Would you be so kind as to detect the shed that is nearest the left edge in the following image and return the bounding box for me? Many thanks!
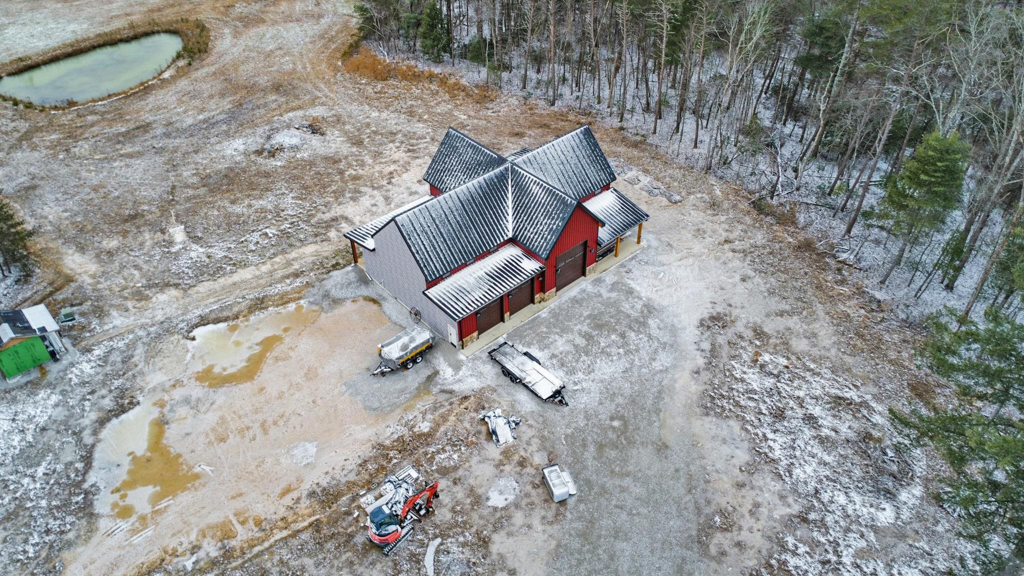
[0,302,71,381]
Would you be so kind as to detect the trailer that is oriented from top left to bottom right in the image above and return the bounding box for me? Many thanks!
[487,342,569,406]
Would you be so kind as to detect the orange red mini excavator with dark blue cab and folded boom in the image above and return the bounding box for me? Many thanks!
[362,480,442,556]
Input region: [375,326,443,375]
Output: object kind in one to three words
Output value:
trailer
